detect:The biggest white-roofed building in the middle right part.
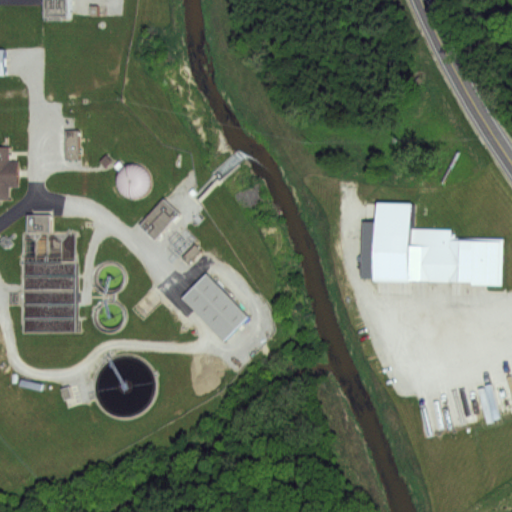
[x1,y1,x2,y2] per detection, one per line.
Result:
[372,202,504,287]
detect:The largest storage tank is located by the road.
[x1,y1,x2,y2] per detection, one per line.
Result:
[94,351,160,418]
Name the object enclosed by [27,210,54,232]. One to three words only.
building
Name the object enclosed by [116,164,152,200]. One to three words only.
storage tank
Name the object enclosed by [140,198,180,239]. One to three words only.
building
